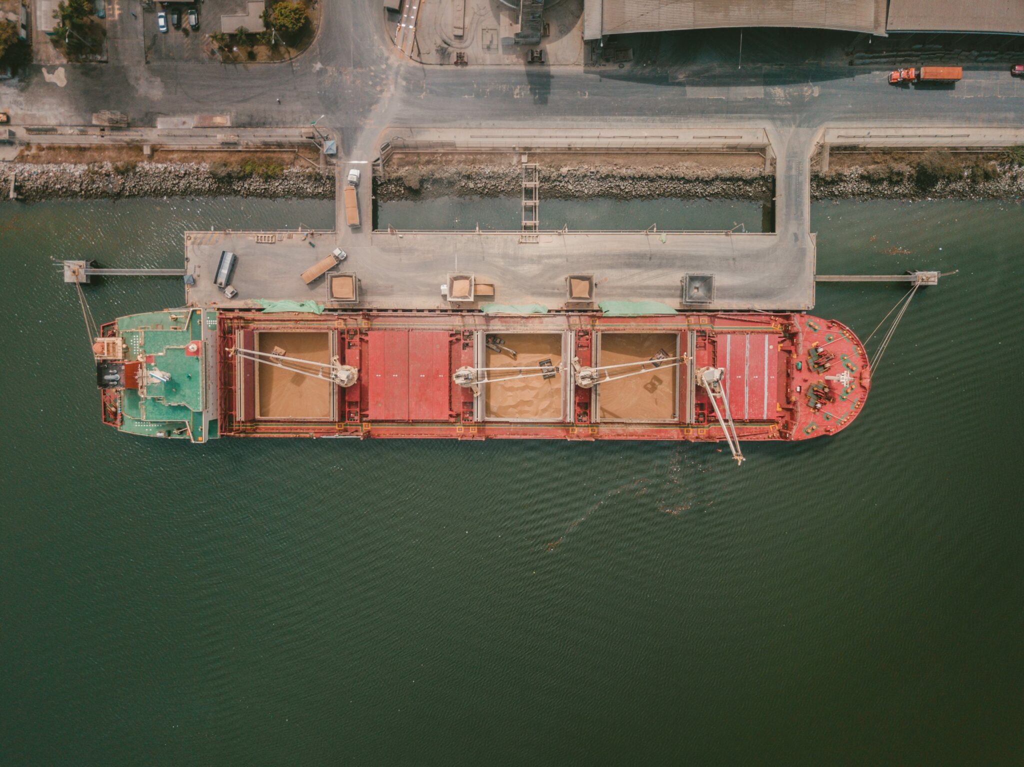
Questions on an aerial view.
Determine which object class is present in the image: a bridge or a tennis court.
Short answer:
bridge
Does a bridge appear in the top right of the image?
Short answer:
Yes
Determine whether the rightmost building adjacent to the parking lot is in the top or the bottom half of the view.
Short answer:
top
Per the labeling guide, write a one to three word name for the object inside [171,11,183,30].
vehicle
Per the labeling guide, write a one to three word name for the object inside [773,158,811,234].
bridge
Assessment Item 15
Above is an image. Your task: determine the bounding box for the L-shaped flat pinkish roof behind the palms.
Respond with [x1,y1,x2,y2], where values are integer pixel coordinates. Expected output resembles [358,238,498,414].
[221,0,270,39]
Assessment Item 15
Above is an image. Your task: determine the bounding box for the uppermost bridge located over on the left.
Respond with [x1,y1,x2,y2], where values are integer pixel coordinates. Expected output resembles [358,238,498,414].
[336,161,373,234]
